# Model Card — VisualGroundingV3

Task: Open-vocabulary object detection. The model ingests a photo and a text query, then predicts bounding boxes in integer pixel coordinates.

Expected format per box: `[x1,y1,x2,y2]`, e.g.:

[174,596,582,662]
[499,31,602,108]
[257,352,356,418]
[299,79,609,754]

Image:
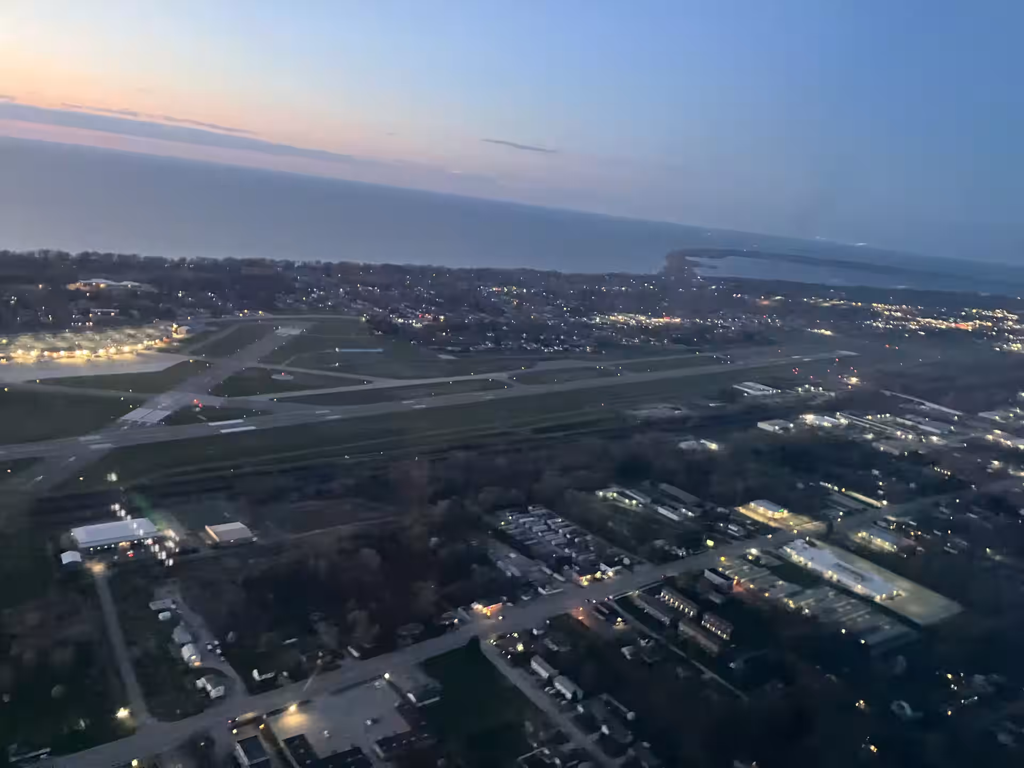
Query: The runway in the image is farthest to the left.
[0,328,304,503]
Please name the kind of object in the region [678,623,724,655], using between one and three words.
building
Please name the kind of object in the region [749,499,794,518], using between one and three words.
building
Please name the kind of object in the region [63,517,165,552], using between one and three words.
hangar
